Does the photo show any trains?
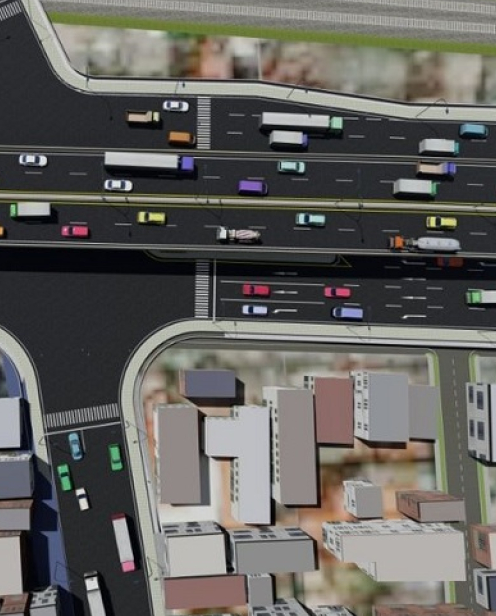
No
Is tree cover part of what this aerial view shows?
No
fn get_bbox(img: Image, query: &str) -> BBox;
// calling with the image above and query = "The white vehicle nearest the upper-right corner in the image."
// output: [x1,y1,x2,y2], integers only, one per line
[416,139,460,157]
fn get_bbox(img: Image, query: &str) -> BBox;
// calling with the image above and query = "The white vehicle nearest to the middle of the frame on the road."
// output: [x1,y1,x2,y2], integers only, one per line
[240,304,267,316]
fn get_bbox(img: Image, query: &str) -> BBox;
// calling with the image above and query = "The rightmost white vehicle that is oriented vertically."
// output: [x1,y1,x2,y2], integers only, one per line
[111,512,137,574]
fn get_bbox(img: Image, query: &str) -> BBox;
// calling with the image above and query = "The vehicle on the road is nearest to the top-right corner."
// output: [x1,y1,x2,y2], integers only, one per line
[457,125,487,140]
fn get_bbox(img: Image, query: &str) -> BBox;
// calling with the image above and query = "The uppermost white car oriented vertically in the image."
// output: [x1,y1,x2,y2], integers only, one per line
[76,485,88,512]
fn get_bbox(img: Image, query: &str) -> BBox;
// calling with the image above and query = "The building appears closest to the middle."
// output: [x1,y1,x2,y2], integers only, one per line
[180,369,235,397]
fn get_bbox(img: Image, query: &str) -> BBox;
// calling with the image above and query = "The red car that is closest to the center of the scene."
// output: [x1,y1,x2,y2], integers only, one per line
[242,284,268,296]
